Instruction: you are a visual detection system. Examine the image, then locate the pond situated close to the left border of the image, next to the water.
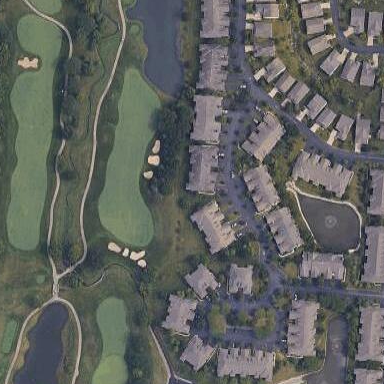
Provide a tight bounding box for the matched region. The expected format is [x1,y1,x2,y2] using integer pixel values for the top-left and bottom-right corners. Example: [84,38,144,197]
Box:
[14,303,68,384]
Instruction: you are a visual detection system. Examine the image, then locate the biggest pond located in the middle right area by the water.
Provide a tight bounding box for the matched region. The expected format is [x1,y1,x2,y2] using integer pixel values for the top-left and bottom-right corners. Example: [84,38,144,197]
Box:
[298,192,360,252]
